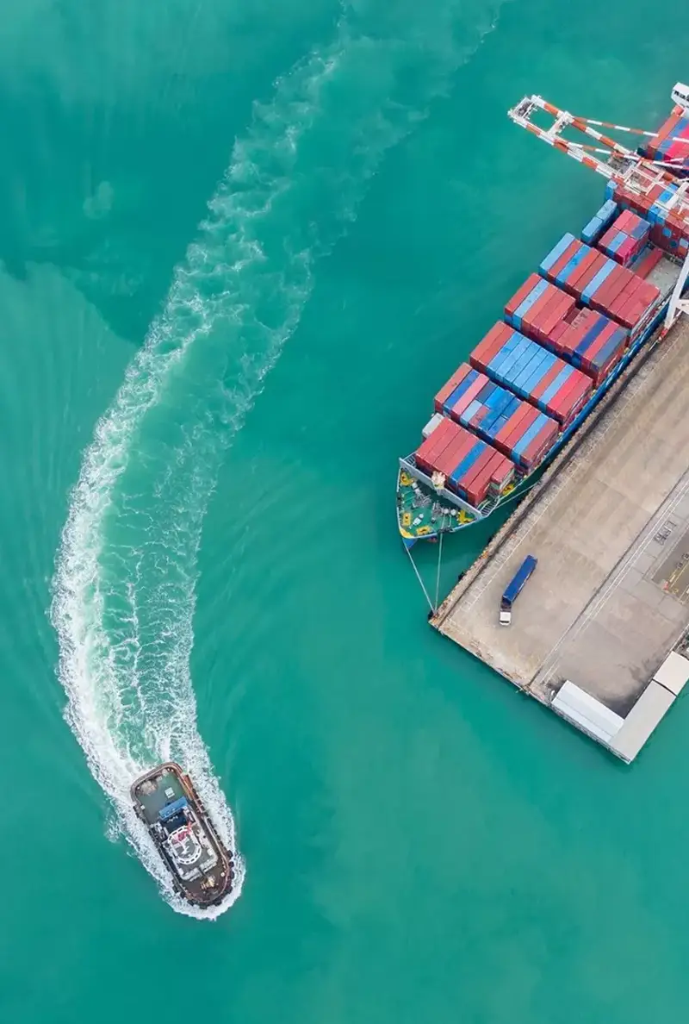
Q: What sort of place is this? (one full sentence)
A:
This image shows a port.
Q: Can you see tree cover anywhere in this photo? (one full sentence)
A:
No, tree cover can't be seen anywhere here.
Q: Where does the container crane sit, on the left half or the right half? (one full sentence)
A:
The container crane is on the right side of the image.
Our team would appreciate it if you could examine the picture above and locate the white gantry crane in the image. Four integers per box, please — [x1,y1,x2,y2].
[508,87,689,344]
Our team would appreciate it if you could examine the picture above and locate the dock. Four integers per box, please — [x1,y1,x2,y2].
[427,292,689,770]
